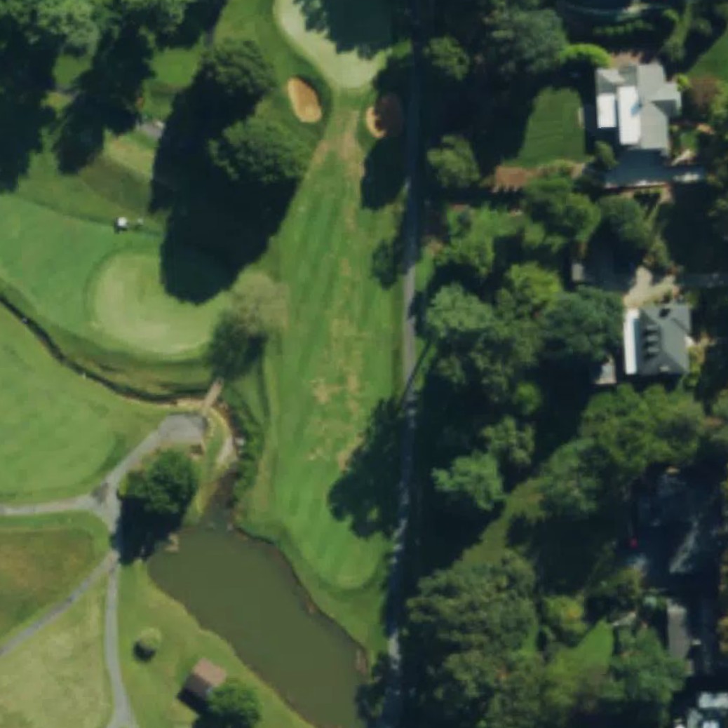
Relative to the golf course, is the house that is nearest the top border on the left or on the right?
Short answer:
on its right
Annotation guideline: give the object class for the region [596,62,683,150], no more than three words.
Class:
house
